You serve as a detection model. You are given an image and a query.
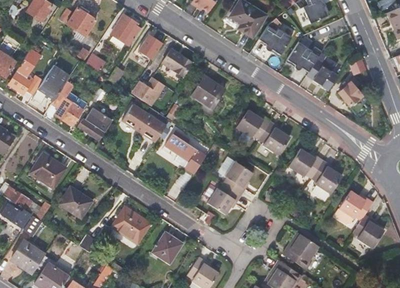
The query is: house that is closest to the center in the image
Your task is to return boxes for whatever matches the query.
[163,124,208,168]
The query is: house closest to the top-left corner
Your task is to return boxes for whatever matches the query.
[24,0,56,30]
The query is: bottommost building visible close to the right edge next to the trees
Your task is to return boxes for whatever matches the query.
[352,216,386,248]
